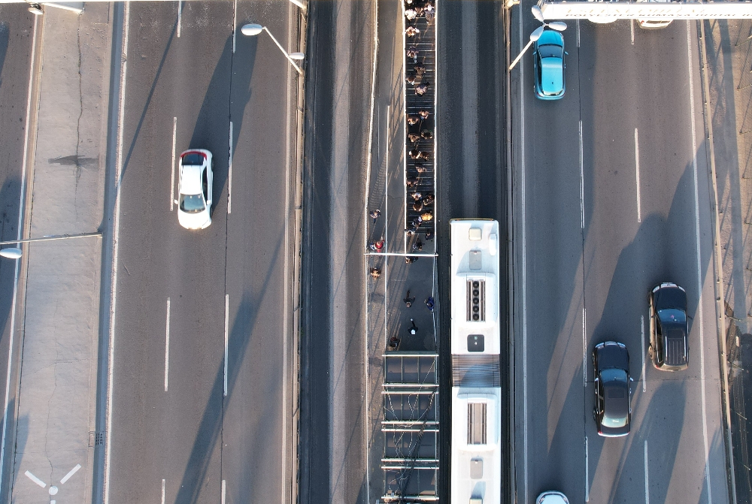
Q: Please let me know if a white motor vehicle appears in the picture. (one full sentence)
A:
Yes, a white motor vehicle is visible in the scene.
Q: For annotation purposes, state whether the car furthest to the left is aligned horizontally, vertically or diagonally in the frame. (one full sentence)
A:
In this picture, the car furthest to the left is oriented vertically.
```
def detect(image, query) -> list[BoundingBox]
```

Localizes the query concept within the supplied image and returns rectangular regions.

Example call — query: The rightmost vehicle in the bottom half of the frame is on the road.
[647,284,692,369]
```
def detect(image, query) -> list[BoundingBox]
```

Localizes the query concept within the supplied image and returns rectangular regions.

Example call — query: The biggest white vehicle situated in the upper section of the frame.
[172,149,214,228]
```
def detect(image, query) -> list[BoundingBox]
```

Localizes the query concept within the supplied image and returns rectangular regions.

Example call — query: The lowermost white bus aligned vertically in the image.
[446,220,501,504]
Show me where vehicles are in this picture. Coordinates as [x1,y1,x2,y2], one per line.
[637,16,672,27]
[446,220,501,504]
[172,149,214,228]
[647,284,692,369]
[531,33,570,99]
[533,491,570,504]
[592,343,634,436]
